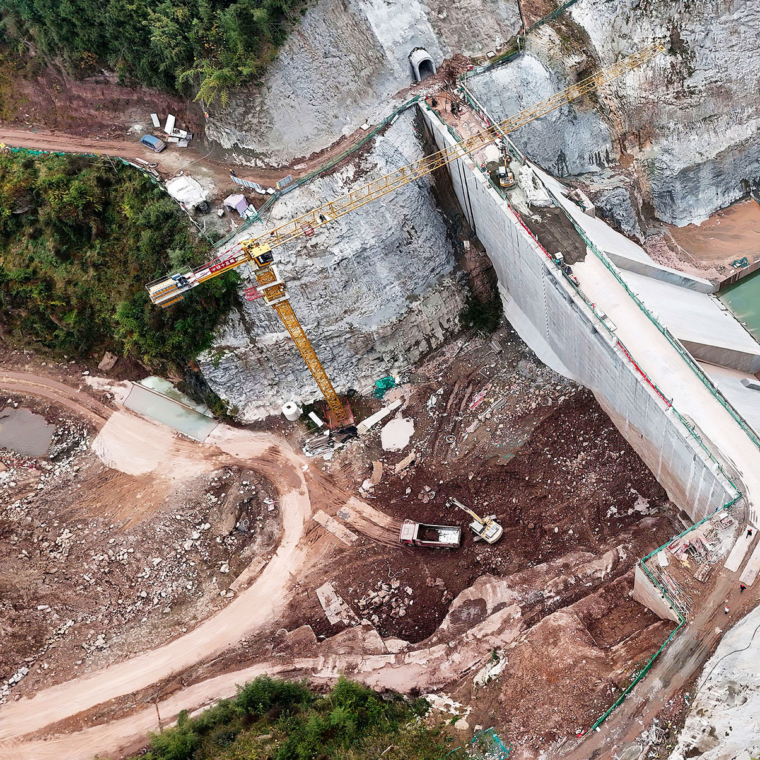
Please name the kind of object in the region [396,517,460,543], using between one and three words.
truck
